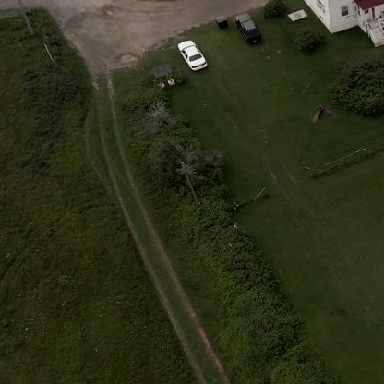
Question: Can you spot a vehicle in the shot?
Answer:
Yes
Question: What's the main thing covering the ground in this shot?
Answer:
grass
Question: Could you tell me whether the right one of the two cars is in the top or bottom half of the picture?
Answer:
top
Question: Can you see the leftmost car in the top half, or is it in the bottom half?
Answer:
top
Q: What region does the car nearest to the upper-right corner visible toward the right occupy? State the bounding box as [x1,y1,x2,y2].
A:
[233,16,261,40]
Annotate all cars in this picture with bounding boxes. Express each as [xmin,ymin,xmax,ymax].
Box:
[233,16,261,40]
[178,40,208,68]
